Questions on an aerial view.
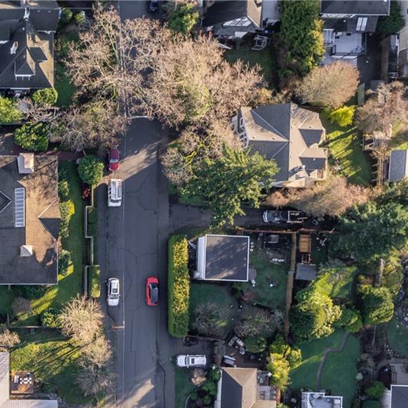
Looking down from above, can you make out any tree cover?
Yes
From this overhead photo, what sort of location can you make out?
residential area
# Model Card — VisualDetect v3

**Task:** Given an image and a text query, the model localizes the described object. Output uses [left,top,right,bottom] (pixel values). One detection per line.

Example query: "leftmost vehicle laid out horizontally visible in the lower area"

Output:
[176,354,206,368]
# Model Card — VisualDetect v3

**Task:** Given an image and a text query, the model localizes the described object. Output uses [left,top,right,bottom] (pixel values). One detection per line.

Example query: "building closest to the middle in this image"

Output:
[198,234,249,282]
